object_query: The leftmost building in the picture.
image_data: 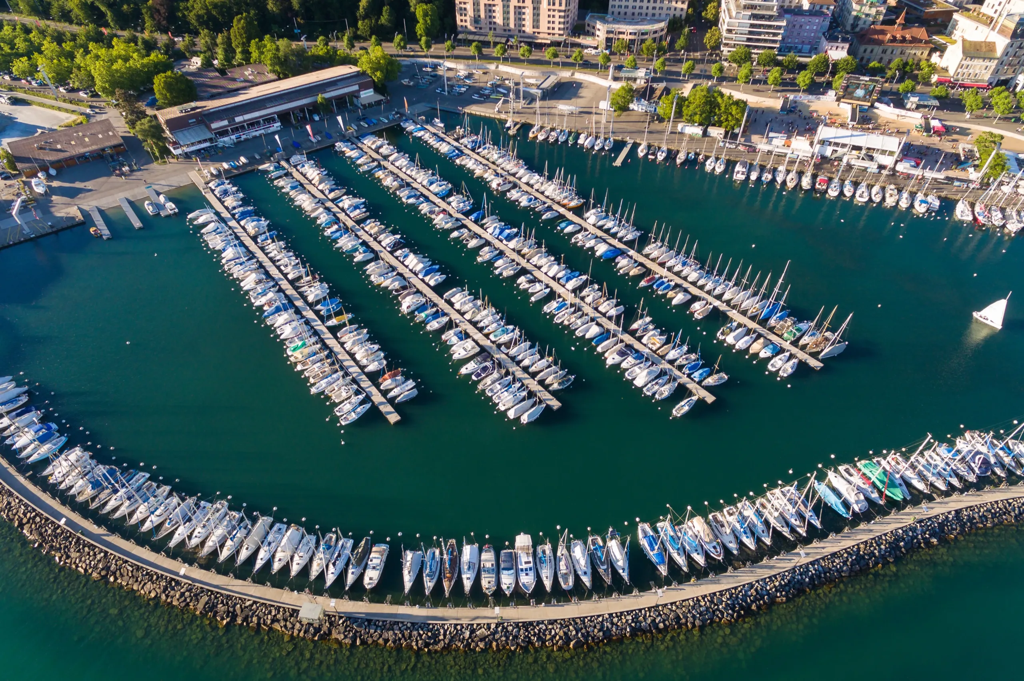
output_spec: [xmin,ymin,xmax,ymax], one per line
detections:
[7,119,126,178]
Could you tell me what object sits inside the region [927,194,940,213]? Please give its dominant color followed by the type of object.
white boat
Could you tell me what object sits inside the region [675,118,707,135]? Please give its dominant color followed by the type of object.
white vehicle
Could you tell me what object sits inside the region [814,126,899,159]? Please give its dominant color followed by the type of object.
white tent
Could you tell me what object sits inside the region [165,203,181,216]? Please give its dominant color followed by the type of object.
white boat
